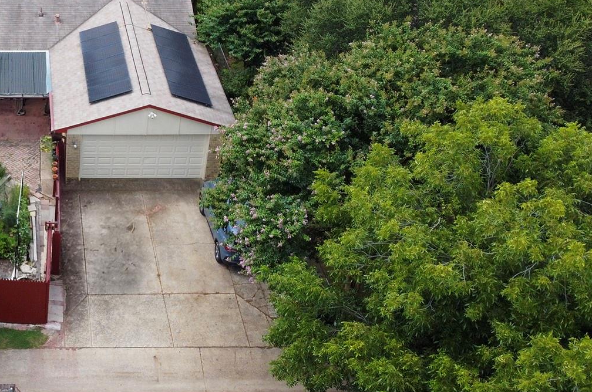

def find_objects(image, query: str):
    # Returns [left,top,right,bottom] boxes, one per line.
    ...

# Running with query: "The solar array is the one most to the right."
[150,23,212,108]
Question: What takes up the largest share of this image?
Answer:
trees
